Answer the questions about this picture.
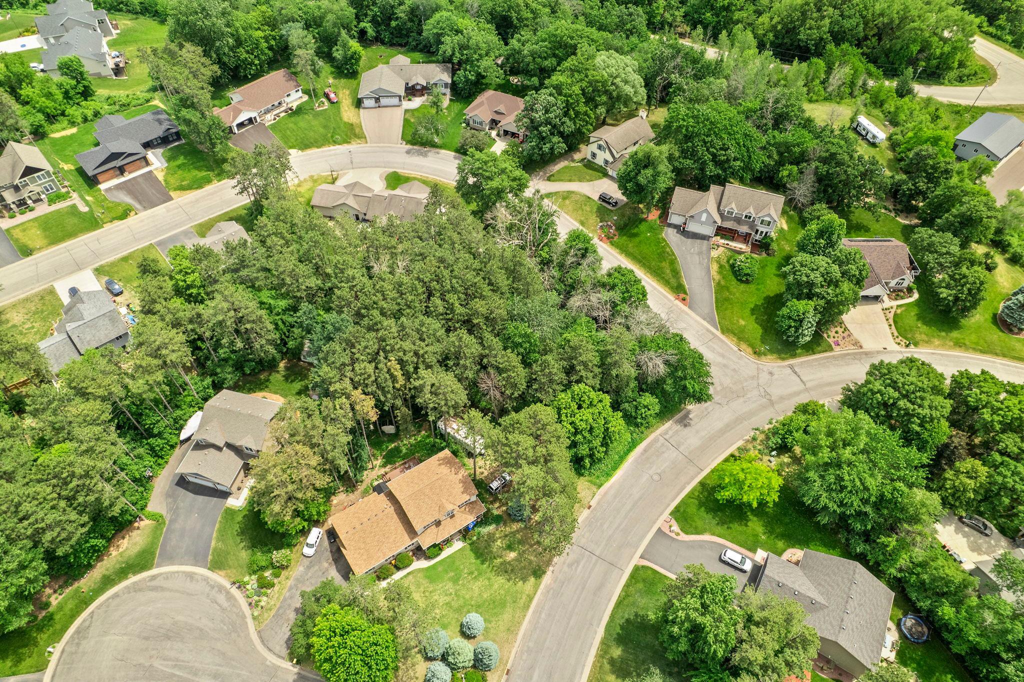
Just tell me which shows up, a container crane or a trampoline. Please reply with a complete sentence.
There is a trampoline in the scene.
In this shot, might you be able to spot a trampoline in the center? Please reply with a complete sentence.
No, no trampoline is visible in the center.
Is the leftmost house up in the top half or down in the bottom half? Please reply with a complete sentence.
Seen from above, the leftmost house lies in the top half of the view.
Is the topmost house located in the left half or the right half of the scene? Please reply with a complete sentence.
You can find the topmost house on the left side of the picture.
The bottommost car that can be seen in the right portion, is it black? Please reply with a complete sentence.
No, the color of the bottommost car that can be seen in the right portion is white.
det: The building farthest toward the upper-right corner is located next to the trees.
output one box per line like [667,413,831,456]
[951,114,1024,174]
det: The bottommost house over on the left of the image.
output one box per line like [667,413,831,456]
[329,452,487,575]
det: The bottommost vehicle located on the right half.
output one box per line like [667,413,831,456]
[719,549,752,574]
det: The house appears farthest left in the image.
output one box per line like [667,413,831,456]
[0,143,62,213]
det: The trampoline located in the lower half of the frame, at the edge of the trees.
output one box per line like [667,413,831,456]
[897,609,938,646]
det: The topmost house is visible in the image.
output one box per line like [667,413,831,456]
[35,0,122,49]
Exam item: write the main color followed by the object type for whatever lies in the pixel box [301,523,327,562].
white car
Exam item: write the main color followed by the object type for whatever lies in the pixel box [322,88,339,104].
red vehicle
